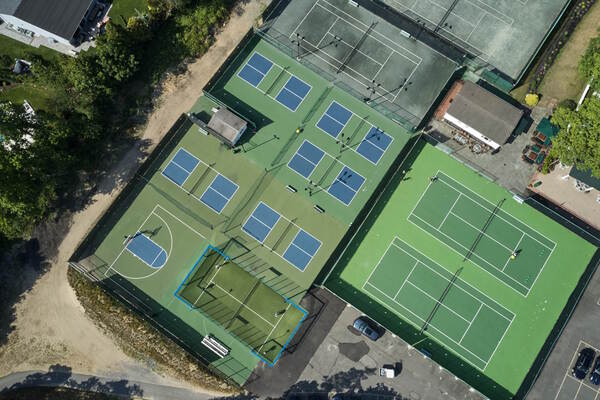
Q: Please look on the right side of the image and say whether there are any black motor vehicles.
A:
Yes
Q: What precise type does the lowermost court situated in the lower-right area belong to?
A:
tennis court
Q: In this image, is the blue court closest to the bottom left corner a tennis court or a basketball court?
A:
basketball court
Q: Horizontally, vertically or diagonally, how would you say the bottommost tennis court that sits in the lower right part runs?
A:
diagonally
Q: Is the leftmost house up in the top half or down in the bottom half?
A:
top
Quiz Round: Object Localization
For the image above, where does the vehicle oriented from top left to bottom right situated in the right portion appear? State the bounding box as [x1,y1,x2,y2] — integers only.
[354,315,380,341]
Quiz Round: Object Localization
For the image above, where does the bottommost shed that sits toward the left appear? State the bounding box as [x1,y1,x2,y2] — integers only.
[207,108,248,146]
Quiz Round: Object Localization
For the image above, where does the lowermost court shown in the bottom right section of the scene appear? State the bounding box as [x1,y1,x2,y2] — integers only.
[363,236,516,371]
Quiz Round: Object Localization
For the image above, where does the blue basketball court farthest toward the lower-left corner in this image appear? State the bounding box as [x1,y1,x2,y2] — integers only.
[105,205,205,331]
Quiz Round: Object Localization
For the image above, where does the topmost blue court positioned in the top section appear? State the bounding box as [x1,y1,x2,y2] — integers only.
[237,52,312,112]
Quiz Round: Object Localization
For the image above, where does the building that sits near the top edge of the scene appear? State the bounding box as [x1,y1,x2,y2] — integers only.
[0,0,110,49]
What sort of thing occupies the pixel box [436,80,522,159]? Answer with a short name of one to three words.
building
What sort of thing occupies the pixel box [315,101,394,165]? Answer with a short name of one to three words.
sports court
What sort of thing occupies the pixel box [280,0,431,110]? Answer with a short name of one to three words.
tennis court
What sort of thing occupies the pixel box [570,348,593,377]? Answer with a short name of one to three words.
car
